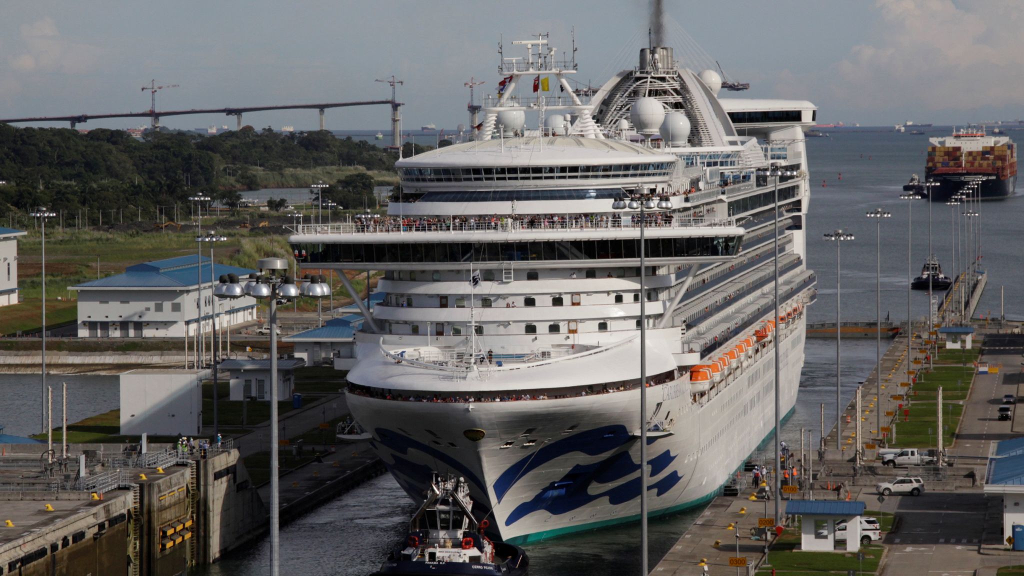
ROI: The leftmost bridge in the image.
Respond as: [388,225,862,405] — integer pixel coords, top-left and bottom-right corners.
[0,99,405,165]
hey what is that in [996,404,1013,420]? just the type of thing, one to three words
car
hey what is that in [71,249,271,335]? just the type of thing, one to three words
building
